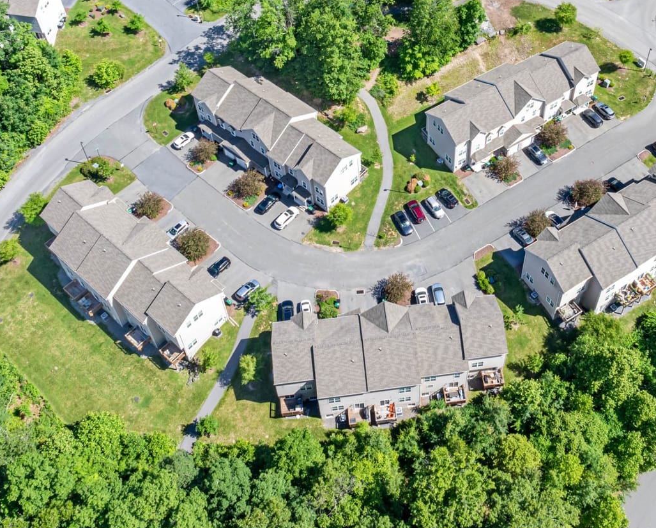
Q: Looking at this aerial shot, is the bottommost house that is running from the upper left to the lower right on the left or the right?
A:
left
